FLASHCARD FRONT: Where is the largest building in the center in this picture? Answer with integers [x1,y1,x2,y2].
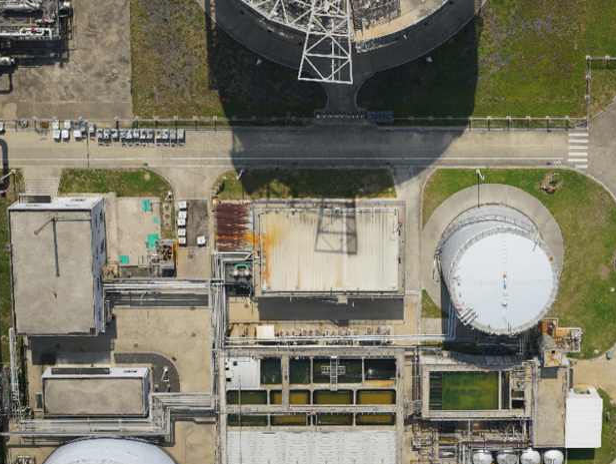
[253,197,405,299]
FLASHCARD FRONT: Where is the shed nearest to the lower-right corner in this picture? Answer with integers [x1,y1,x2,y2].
[565,388,602,448]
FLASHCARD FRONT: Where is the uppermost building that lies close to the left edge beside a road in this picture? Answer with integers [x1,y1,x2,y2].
[9,192,113,336]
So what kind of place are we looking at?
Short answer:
industrial area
